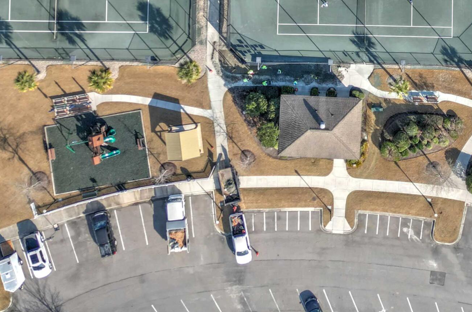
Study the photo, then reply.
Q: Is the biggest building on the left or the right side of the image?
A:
right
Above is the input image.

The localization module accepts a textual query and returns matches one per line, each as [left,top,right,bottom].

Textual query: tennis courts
[229,0,472,67]
[0,0,195,64]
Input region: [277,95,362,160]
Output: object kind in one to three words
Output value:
building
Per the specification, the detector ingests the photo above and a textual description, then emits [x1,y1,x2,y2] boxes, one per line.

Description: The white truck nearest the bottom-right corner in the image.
[227,210,251,266]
